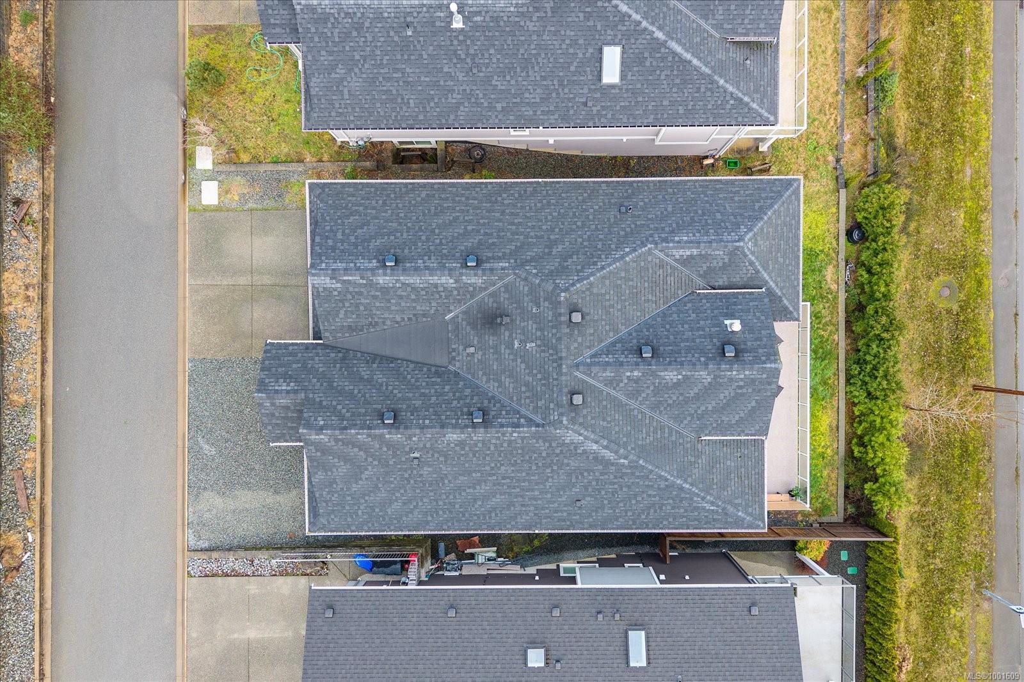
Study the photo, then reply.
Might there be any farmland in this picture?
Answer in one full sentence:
No, farmland can't be seen anywhere here.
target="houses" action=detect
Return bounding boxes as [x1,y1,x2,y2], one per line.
[256,176,817,535]
[303,549,854,682]
[259,0,807,164]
